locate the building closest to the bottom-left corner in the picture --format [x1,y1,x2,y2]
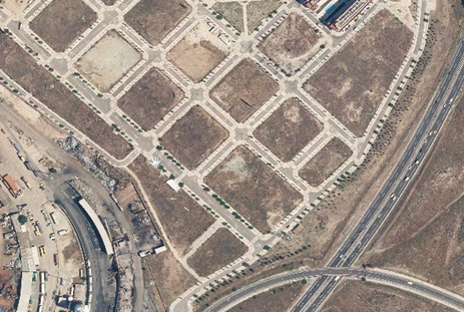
[19,273,33,312]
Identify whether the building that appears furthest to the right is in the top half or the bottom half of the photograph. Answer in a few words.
top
